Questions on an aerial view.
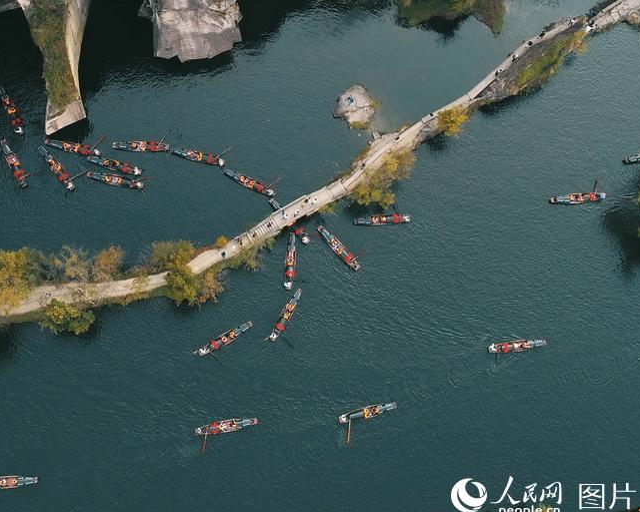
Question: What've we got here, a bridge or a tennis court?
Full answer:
Of the two, only a bridge appears.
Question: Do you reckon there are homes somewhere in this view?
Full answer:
No, this view has no home in it.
